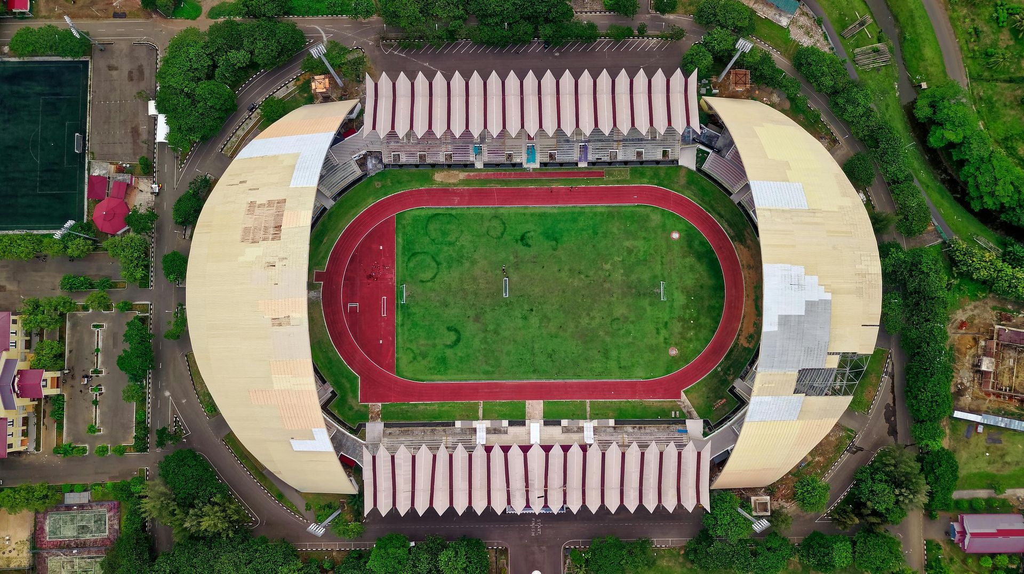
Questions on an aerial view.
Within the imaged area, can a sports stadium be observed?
Yes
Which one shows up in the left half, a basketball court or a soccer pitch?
soccer pitch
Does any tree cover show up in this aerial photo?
Yes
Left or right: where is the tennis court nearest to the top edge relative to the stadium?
to the left of it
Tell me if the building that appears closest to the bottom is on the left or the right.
right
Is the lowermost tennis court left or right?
left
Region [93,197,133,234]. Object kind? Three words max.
building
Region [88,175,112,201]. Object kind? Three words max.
shed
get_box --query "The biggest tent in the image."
[155,114,170,144]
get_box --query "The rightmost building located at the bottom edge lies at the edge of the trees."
[952,514,1024,553]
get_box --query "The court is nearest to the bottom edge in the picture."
[29,546,120,574]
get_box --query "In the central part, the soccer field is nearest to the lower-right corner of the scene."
[395,204,724,382]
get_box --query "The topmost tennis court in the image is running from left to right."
[29,502,119,552]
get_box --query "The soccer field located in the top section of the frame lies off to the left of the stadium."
[0,55,91,234]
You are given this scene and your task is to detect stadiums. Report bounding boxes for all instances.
[186,68,882,517]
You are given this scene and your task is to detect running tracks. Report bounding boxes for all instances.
[314,185,745,404]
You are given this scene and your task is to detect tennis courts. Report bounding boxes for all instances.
[29,502,119,552]
[29,546,120,574]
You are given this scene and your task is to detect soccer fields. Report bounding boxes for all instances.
[395,204,724,382]
[0,55,91,234]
